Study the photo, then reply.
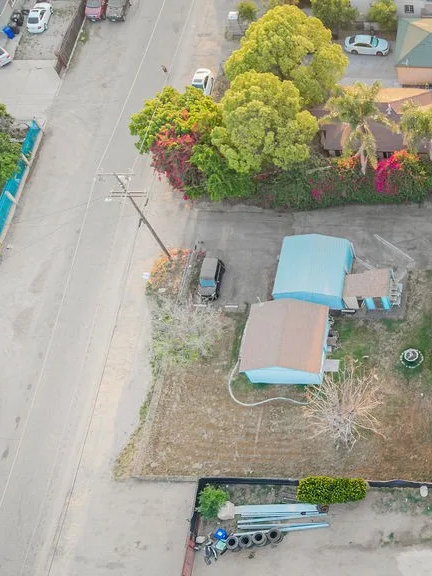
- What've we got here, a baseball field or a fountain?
fountain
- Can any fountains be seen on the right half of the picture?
Yes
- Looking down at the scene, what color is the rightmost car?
white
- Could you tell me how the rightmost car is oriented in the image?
horizontally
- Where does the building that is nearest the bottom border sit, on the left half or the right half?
right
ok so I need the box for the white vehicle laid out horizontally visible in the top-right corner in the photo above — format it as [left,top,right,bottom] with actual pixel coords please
[343,35,389,57]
